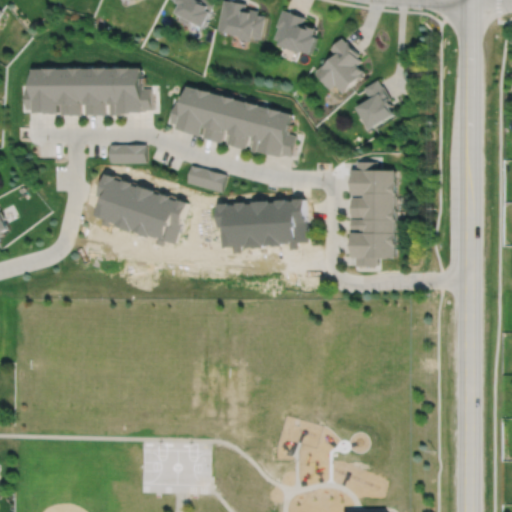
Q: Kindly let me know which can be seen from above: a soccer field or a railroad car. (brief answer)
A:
soccer field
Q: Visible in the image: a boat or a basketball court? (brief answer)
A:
basketball court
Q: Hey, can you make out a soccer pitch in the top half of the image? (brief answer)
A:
No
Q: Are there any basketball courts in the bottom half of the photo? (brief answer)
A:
Yes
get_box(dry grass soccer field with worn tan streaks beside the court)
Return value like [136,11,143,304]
[22,303,409,433]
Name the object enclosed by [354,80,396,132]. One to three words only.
house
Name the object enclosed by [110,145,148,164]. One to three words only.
building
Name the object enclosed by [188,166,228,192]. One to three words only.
building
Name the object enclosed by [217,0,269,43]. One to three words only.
house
